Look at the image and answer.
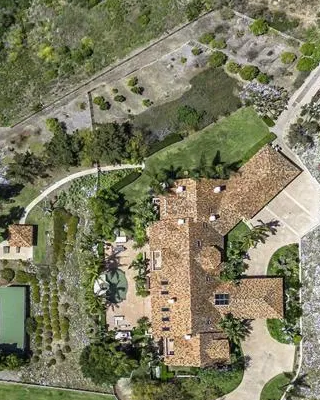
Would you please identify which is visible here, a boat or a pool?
pool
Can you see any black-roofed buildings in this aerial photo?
No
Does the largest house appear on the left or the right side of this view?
right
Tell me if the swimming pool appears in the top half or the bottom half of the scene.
bottom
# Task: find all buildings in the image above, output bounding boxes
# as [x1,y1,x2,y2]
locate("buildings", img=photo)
[149,142,303,367]
[9,225,32,246]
